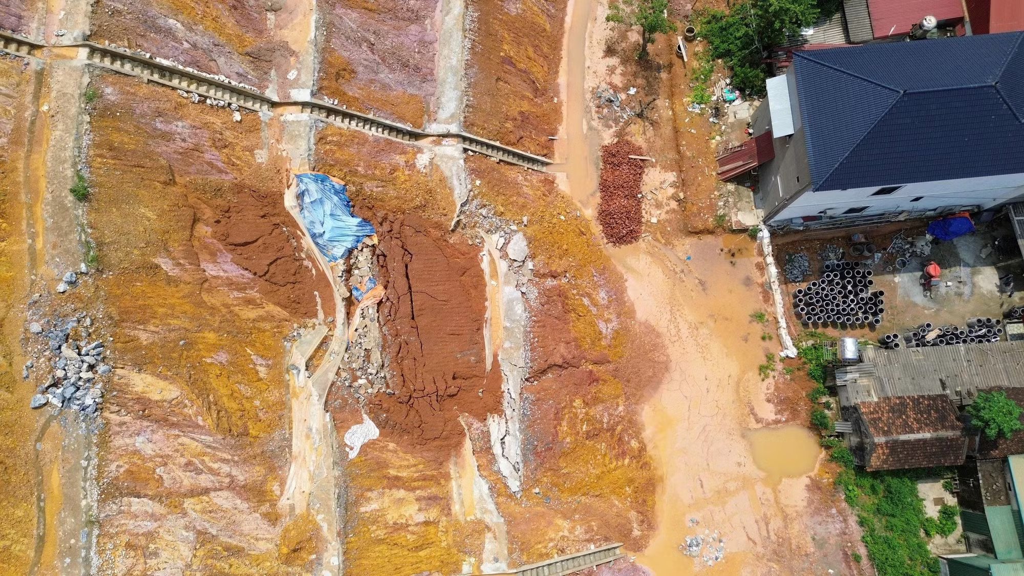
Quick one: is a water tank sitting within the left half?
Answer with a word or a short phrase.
No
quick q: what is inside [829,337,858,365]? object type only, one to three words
water tank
